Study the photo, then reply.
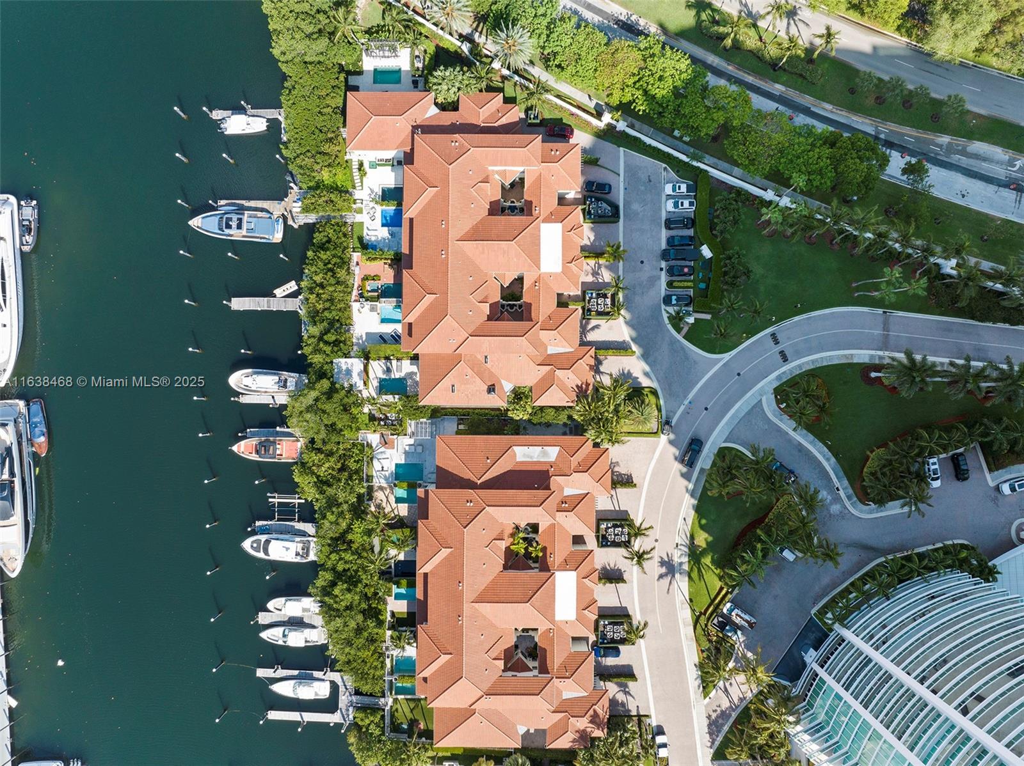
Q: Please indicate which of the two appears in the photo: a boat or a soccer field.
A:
boat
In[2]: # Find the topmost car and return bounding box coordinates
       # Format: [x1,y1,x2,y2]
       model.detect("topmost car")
[546,125,574,140]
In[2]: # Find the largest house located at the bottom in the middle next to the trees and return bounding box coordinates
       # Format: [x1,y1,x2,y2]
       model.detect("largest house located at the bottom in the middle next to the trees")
[417,483,598,712]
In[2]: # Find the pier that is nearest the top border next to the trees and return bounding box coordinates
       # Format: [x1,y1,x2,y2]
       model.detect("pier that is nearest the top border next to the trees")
[211,109,283,136]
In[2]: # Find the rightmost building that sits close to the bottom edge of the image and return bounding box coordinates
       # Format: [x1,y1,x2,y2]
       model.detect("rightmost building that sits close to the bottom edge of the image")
[782,574,1024,766]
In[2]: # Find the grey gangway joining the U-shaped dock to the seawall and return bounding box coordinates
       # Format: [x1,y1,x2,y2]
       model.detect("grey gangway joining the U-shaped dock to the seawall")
[353,692,386,708]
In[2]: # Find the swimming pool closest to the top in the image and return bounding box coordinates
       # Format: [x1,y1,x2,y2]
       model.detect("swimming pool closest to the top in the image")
[371,66,403,85]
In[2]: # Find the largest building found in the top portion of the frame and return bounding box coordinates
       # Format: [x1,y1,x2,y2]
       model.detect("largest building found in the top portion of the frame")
[402,134,584,354]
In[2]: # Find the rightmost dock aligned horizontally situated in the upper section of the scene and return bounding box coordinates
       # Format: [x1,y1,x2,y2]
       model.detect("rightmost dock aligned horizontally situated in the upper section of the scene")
[293,198,356,225]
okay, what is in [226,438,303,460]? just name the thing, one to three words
boat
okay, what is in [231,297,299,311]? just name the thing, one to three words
pier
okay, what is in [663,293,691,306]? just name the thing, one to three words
vehicle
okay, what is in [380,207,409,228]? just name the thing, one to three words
swimming pool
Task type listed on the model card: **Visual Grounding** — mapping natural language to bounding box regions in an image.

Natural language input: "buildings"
[402,134,584,354]
[417,483,598,712]
[782,574,1024,766]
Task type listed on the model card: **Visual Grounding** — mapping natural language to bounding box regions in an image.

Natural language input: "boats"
[186,207,286,240]
[258,626,328,646]
[266,597,329,616]
[0,192,26,380]
[227,368,308,395]
[217,110,271,133]
[268,679,332,699]
[29,398,50,456]
[21,195,40,252]
[226,438,303,460]
[272,283,299,298]
[0,399,37,578]
[240,535,323,562]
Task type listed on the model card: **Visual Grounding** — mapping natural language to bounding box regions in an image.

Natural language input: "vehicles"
[721,601,757,631]
[546,125,574,140]
[666,234,693,248]
[707,616,739,643]
[949,452,969,480]
[593,645,619,659]
[664,181,696,196]
[664,216,693,230]
[666,264,693,278]
[661,418,672,436]
[996,478,1024,495]
[666,197,695,212]
[654,734,668,766]
[584,179,612,194]
[681,436,700,468]
[922,456,941,487]
[663,293,691,306]
[660,247,698,262]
